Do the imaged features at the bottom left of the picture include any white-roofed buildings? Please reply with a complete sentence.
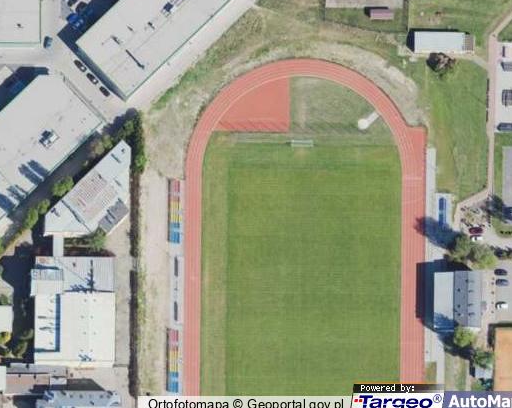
Yes, a white-roofed building can be seen at the bottom left of the picture.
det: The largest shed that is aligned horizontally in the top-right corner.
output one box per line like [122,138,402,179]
[415,33,464,55]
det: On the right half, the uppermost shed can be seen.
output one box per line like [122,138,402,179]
[369,8,395,21]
